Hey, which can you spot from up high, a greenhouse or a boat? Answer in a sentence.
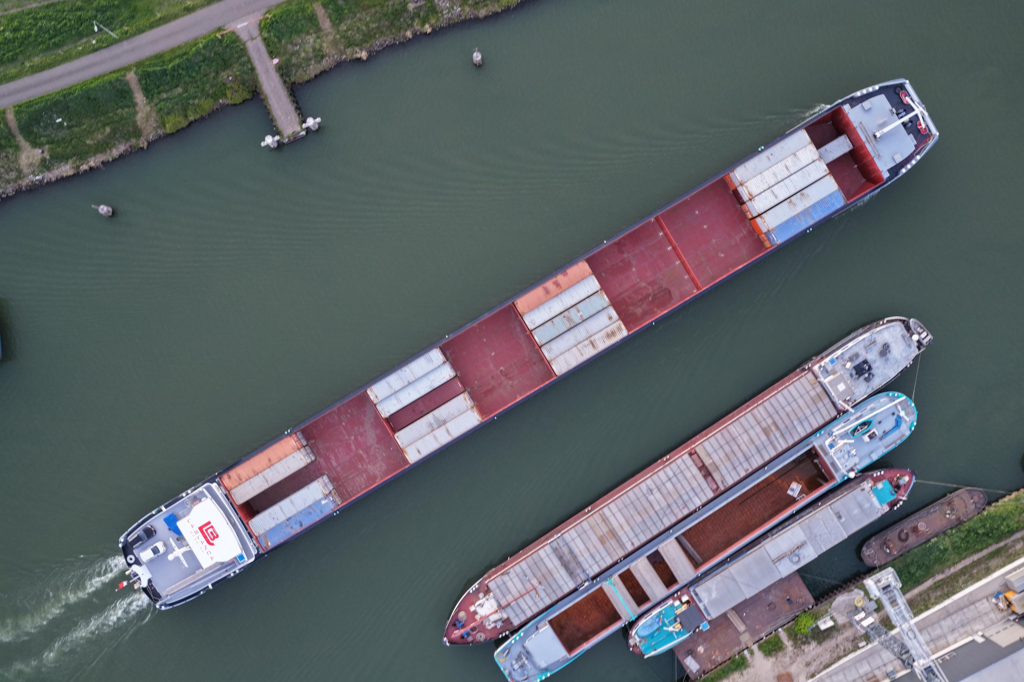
The one in the frame is a boat.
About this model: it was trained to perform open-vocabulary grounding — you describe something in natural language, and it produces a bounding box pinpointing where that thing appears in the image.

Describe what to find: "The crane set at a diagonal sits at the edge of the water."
[851,568,962,682]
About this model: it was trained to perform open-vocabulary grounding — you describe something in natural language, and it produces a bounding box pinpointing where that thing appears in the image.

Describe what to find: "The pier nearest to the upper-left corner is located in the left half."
[259,74,310,146]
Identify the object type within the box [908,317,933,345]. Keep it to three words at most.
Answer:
boat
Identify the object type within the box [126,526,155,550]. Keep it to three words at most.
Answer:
boat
